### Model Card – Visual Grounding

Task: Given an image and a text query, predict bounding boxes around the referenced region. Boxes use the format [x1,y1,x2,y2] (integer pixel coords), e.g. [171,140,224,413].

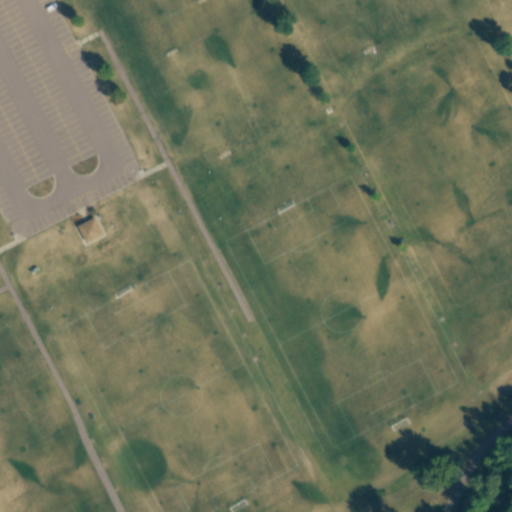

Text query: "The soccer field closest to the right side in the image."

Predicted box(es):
[346,36,512,306]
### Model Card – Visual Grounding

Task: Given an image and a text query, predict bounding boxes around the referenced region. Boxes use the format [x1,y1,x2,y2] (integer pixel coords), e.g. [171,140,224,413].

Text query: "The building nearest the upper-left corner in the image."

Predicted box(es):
[78,218,106,245]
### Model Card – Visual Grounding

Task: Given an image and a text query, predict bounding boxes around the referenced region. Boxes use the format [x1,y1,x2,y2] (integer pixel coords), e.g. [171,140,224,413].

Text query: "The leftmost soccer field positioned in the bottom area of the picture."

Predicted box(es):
[64,260,298,512]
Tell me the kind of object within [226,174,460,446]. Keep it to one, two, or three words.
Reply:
soccer field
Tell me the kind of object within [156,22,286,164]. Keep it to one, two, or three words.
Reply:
soccer field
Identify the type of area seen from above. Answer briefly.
sports ground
